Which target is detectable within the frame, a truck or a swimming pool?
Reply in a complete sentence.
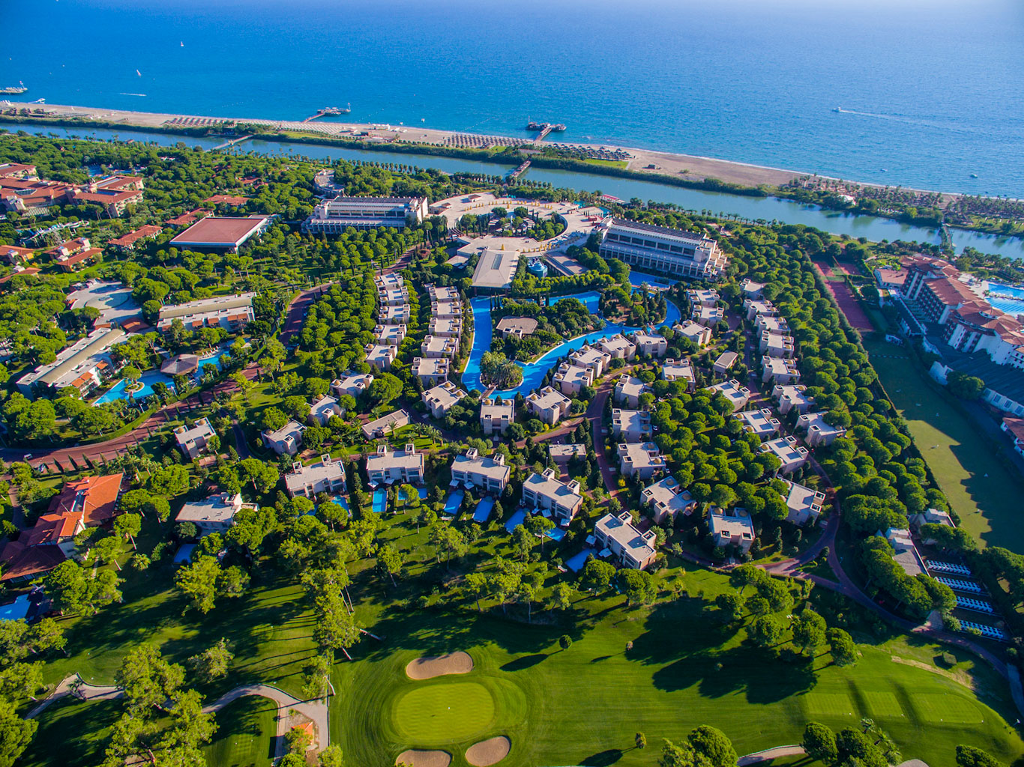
The one in the frame is a swimming pool.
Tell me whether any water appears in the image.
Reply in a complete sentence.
Yes, some water is visible.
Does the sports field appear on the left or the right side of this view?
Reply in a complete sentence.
The sports field appears in the right half of the scene.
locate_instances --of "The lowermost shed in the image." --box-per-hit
[287,711,323,749]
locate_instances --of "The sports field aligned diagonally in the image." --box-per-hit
[862,336,1024,552]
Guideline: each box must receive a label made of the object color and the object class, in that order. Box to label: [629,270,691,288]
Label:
blue swimming pool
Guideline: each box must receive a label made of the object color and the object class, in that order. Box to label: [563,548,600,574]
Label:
blue swimming pool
